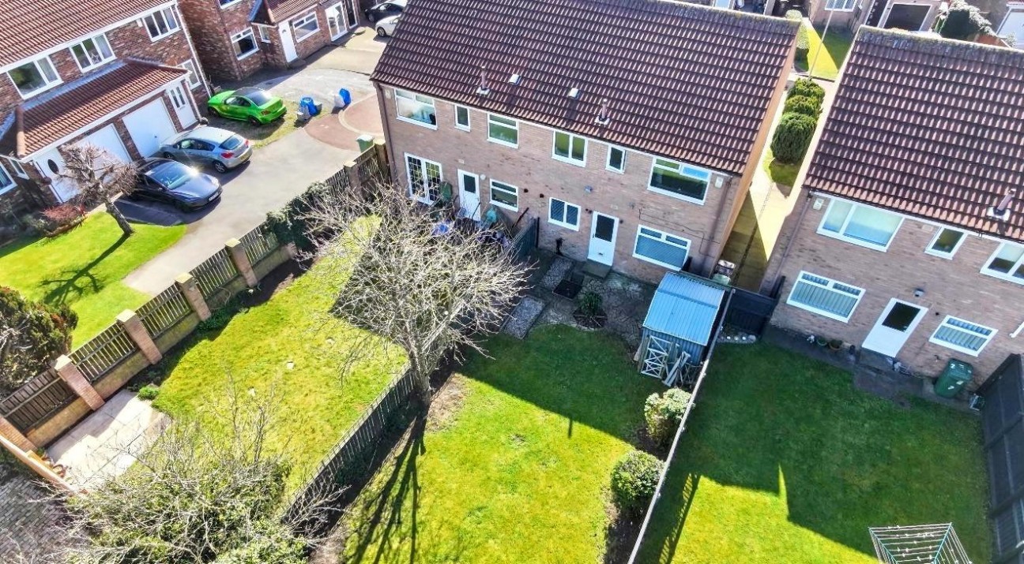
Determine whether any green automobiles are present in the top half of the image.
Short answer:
Yes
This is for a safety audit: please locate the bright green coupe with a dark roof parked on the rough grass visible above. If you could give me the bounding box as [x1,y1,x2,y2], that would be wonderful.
[200,83,289,127]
